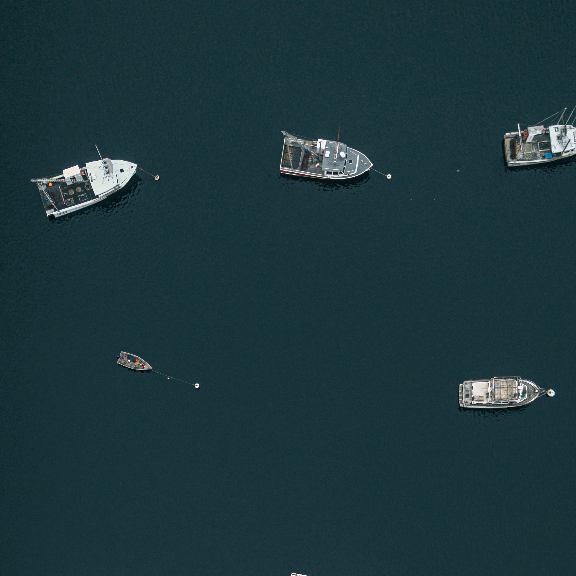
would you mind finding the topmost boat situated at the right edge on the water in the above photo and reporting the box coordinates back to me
[504,106,576,165]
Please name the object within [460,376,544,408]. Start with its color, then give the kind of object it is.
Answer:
white boat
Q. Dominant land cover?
water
